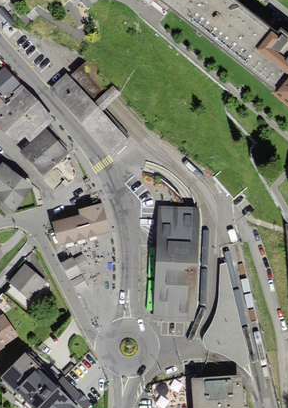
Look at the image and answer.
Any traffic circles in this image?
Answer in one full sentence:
Yes, this view includes a traffic circle.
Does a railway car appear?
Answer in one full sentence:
Yes, the image includes a railway car.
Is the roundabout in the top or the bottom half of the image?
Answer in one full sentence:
The bottom half of the photo is where the roundabout is.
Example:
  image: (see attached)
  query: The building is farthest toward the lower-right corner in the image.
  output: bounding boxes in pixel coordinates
[191,376,249,408]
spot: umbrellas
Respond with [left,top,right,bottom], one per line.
[156,396,170,408]
[170,379,184,392]
[156,384,168,396]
